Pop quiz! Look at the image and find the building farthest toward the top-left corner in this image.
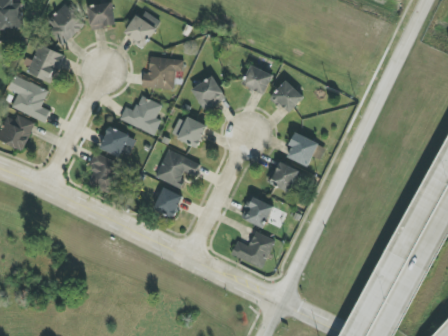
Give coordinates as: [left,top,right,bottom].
[0,0,24,29]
